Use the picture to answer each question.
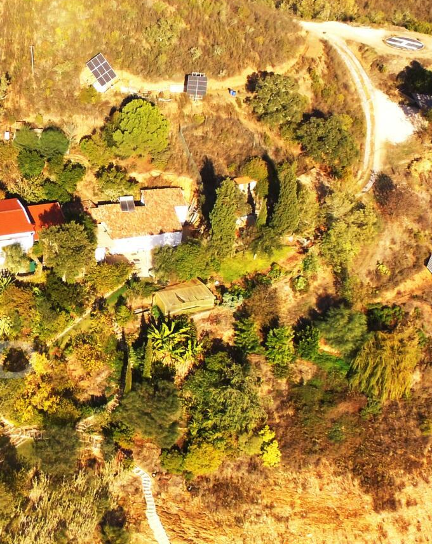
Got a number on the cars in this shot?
0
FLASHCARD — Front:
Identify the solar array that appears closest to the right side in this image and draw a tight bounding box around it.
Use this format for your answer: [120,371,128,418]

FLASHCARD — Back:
[187,72,208,103]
